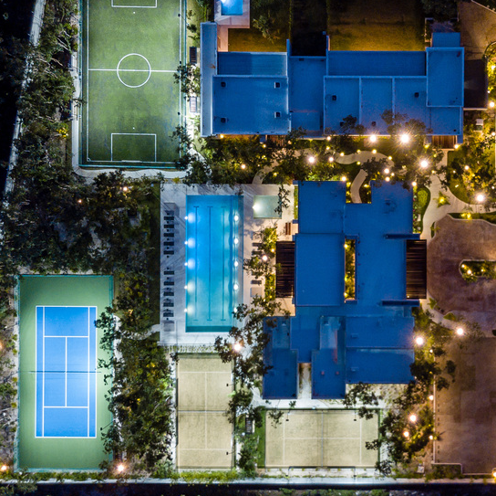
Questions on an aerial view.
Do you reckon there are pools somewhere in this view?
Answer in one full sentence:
Yes, you can see a pool in this photo.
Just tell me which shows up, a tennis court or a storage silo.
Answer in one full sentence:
Of the two, only a tennis court appears.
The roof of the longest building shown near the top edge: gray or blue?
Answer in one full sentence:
The roof of the longest building shown near the top edge is blue.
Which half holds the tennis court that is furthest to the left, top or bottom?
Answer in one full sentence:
The bottom half of the photo is where the tennis court that is furthest to the left is.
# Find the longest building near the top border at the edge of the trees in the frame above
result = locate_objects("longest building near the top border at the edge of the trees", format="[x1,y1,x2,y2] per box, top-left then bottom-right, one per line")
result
[200,18,464,151]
